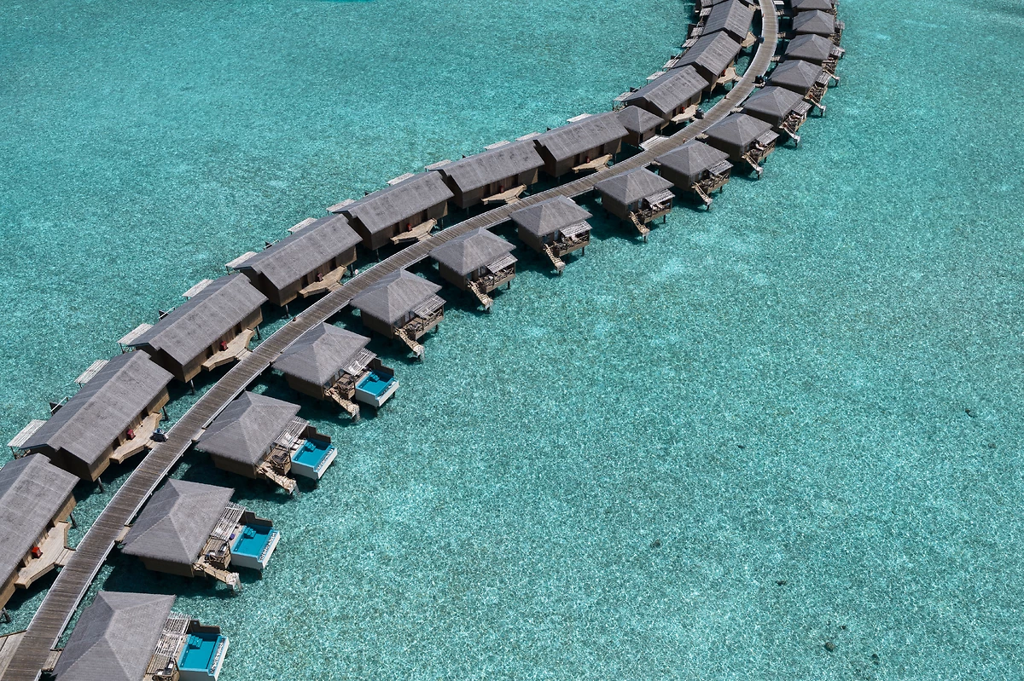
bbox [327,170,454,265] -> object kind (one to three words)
house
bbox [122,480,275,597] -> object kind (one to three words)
house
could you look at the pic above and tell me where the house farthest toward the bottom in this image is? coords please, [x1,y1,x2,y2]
[55,591,226,681]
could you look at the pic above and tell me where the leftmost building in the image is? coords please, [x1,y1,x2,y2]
[0,453,80,602]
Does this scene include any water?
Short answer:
Yes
